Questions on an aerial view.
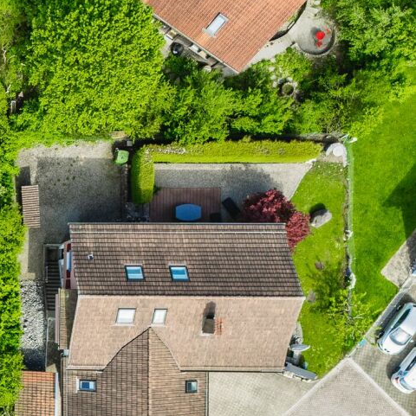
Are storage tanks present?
No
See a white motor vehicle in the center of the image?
No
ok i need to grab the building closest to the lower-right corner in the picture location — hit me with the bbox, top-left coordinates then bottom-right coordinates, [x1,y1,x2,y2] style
[280,364,317,382]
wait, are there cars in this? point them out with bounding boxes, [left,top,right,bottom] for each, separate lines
[379,292,416,353]
[391,337,416,396]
